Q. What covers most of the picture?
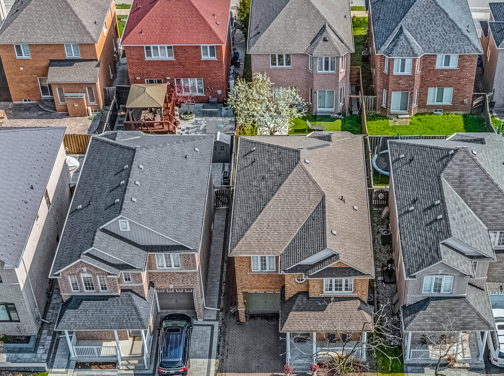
buildings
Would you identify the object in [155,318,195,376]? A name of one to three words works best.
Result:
car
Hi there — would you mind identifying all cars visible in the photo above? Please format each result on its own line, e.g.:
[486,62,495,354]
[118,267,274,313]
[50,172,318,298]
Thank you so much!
[483,312,504,371]
[155,318,195,376]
